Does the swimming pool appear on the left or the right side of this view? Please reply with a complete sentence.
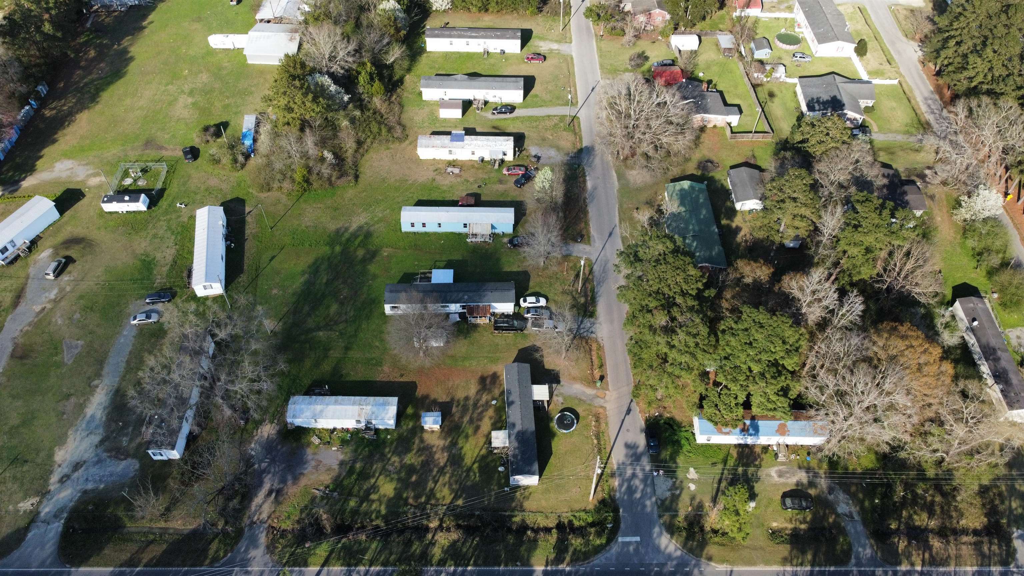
The swimming pool appears in the right half of the scene.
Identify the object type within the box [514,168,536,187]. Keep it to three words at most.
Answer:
vehicle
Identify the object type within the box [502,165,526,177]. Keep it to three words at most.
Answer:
vehicle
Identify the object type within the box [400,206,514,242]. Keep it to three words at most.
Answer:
house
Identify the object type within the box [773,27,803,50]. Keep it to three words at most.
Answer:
swimming pool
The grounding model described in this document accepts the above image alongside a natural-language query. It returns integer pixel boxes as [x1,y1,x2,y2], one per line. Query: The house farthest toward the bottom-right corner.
[949,296,1024,420]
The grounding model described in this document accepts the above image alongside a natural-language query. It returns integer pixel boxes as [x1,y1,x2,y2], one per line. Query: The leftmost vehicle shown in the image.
[44,259,68,281]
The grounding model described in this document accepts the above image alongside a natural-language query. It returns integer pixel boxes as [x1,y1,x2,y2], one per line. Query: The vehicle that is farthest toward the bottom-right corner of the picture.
[779,496,814,512]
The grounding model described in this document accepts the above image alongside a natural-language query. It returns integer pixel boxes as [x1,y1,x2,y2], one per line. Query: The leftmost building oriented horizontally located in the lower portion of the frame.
[283,396,397,443]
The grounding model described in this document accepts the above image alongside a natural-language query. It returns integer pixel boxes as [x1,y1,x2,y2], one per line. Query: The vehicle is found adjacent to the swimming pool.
[791,51,811,63]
